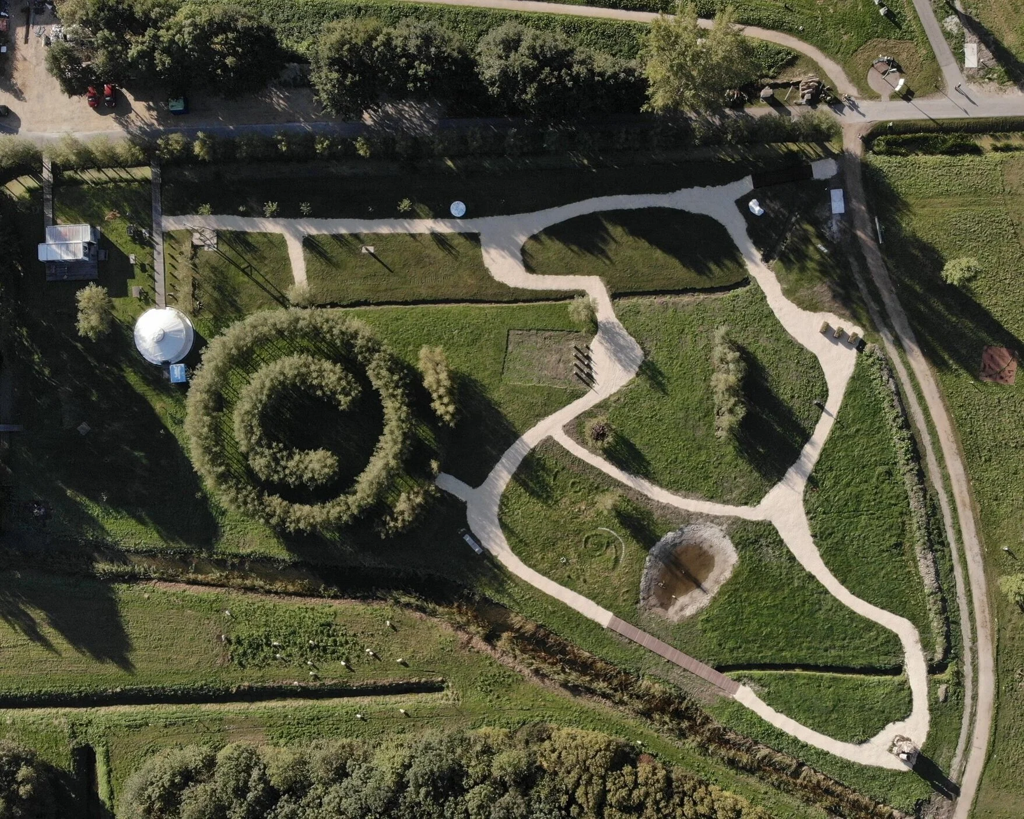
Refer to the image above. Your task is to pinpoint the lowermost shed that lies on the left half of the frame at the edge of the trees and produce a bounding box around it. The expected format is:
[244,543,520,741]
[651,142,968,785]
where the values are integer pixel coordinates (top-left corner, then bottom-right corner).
[166,364,185,383]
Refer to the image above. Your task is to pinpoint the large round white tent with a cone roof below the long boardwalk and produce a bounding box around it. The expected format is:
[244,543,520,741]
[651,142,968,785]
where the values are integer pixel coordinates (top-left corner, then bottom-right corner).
[133,306,193,373]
